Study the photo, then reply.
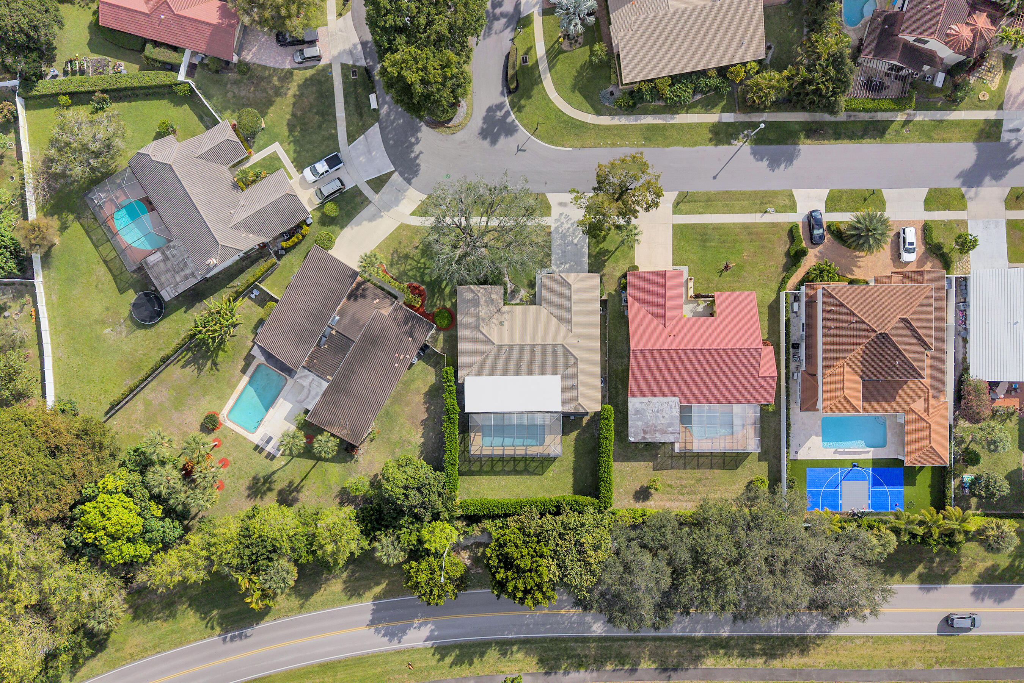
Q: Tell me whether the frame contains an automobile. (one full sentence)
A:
Yes, the photo shows an automobile.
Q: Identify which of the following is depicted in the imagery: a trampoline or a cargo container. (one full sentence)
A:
The one in the frame is a trampoline.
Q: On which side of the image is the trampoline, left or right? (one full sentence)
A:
It is on the left.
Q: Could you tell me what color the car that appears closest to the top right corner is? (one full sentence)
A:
From above, the car that appears closest to the top right corner appears white.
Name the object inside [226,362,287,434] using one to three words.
swimming pool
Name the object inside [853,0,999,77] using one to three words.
house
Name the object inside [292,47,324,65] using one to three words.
car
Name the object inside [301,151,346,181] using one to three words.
truck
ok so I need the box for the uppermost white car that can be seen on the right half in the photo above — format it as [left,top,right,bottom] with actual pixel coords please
[896,226,916,262]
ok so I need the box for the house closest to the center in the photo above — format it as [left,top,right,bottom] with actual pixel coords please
[457,273,601,412]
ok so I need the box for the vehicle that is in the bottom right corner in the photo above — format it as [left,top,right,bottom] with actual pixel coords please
[944,612,980,630]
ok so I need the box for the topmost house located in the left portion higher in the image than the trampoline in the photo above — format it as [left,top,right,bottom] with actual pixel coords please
[98,0,250,64]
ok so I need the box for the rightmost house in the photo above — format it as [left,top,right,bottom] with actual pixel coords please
[959,269,1024,381]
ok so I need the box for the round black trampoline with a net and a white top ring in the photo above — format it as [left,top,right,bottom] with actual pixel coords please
[125,290,166,324]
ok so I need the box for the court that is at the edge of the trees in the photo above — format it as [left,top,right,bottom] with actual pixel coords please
[807,468,904,511]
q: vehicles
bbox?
[301,151,346,181]
[292,47,324,65]
[276,30,319,48]
[944,612,980,630]
[311,177,347,204]
[806,210,825,245]
[896,226,916,262]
